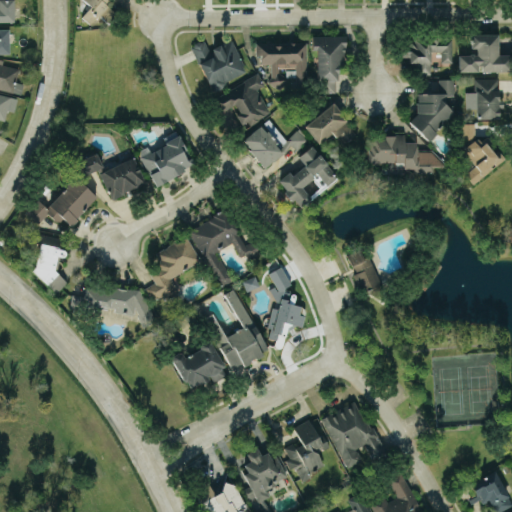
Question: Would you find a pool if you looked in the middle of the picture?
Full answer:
Yes, I can see a pool in the middle of the picture.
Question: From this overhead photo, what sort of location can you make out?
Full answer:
What you see here is a residential area.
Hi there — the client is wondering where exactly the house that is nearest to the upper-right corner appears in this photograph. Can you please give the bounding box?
[460,34,511,73]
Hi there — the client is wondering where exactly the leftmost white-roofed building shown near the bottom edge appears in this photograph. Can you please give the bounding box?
[204,482,250,512]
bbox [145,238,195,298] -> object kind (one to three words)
house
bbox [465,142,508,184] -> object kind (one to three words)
house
